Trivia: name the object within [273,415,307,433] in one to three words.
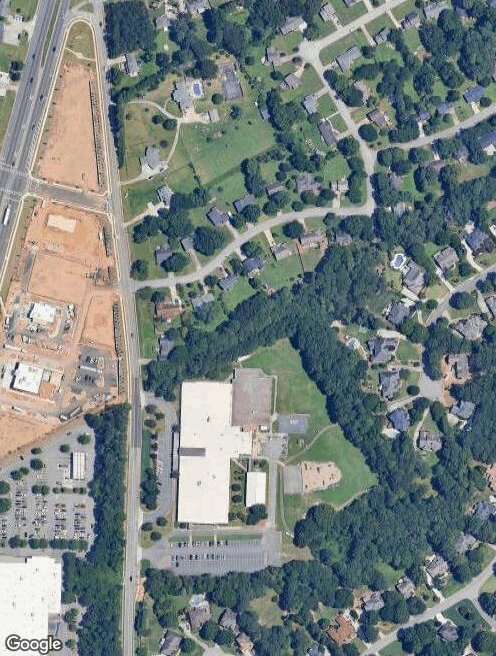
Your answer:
sports court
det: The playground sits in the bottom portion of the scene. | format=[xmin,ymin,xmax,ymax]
[303,461,341,493]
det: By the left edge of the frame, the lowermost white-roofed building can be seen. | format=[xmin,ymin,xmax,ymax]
[0,557,62,656]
